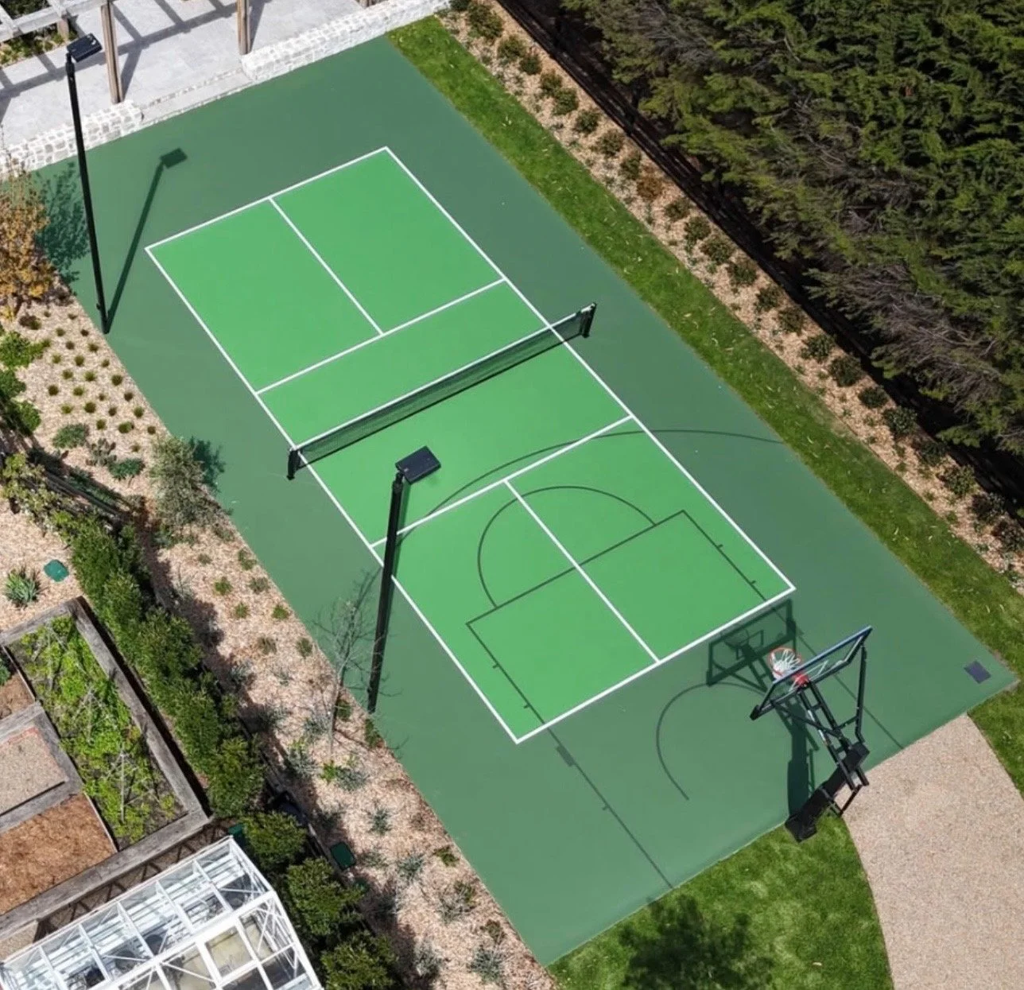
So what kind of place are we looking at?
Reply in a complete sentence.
This image shows a sports ground.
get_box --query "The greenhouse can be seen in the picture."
[0,837,324,990]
